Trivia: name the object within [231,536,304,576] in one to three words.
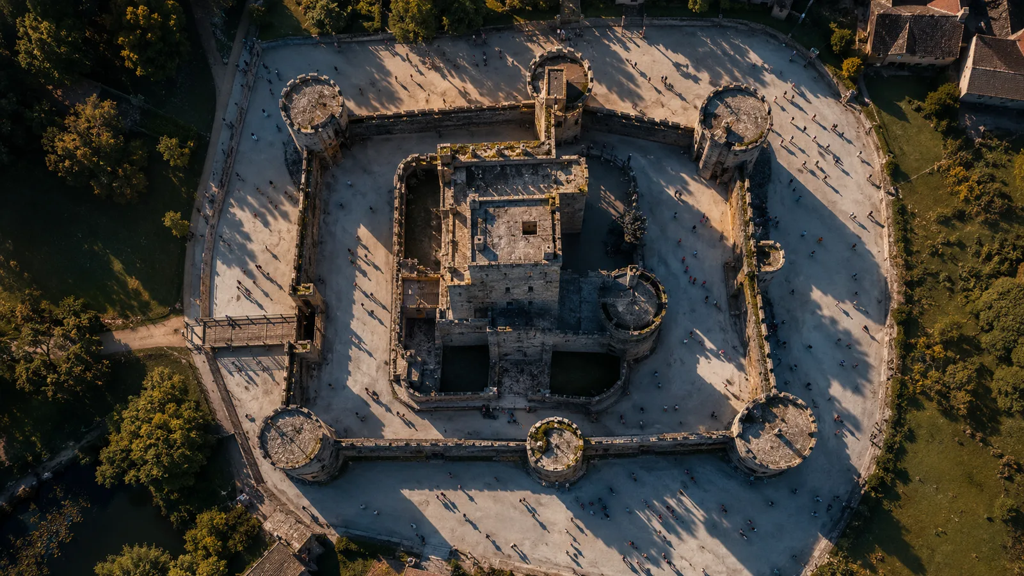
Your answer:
house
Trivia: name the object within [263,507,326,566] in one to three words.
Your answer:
shed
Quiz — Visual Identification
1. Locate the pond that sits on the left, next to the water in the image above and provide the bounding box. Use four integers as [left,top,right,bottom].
[0,442,203,576]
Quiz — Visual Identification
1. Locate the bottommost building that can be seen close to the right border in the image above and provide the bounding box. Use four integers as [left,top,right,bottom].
[957,58,1024,115]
